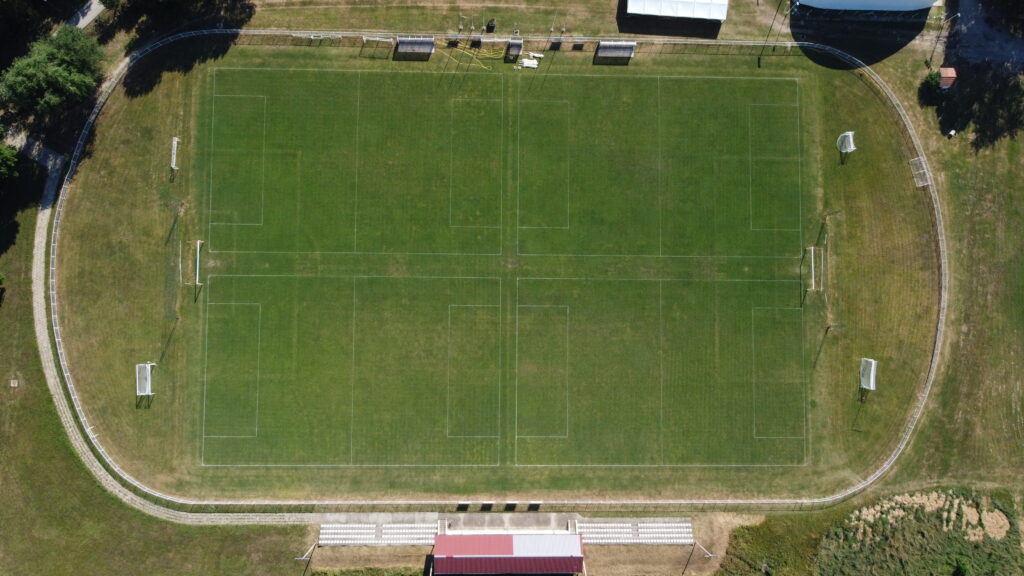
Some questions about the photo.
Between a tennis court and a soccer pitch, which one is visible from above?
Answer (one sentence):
Of the two, only a soccer pitch appears.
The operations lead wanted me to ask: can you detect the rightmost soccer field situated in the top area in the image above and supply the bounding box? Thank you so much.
[518,74,802,257]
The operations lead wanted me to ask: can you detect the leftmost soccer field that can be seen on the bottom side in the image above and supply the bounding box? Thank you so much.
[202,275,501,466]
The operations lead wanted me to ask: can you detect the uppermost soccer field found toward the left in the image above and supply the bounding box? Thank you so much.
[209,68,502,255]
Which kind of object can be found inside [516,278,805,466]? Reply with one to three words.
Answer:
soccer field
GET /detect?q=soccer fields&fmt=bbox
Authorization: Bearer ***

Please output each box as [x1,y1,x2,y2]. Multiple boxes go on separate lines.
[516,278,805,466]
[202,275,501,466]
[209,68,502,255]
[518,74,802,257]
